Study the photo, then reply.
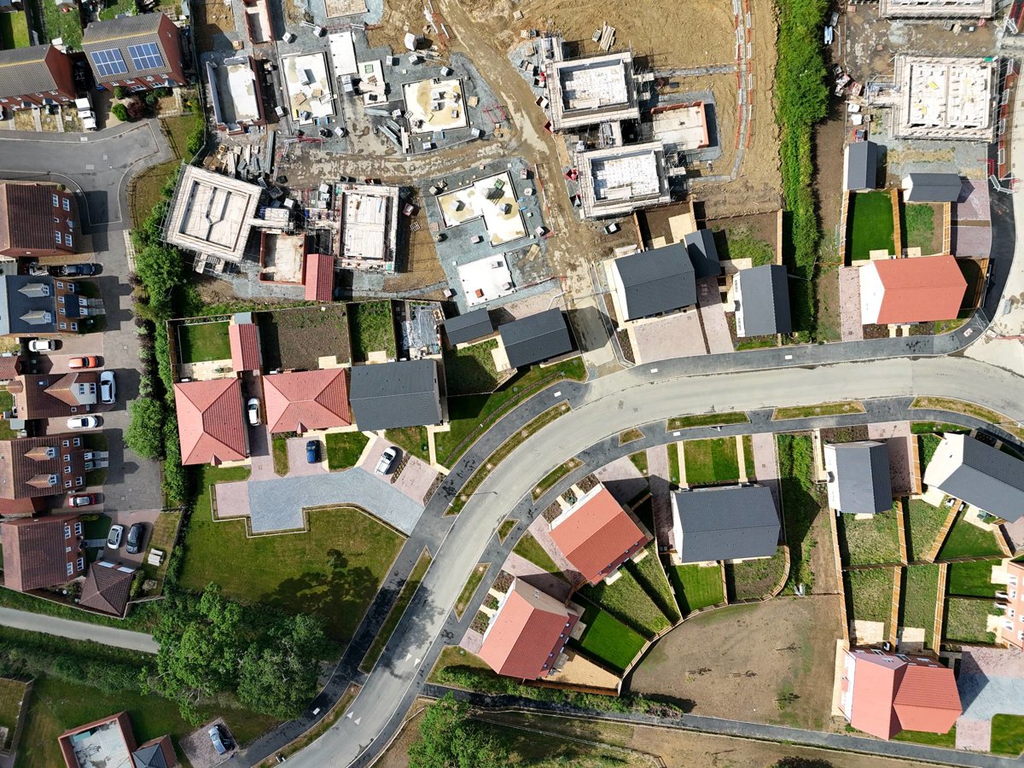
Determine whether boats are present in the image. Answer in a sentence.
No, there's no boat here.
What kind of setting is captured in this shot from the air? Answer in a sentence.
What you see here is a residential area.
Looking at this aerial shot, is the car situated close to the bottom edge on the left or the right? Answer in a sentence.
You can find the car situated close to the bottom edge on the left side of the picture.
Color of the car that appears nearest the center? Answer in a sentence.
The color of the car that appears nearest the center is white.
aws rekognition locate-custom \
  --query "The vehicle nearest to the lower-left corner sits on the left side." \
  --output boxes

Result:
[211,724,232,756]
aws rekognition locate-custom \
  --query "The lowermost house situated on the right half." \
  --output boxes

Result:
[839,647,964,740]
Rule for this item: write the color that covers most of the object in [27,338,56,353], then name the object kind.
white car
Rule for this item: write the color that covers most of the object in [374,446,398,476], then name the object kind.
white car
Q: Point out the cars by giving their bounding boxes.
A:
[106,523,124,549]
[68,355,98,370]
[98,370,116,404]
[27,338,56,353]
[69,493,96,508]
[306,439,320,464]
[90,79,106,102]
[245,397,261,426]
[64,261,96,277]
[211,724,232,756]
[374,446,398,476]
[66,416,99,429]
[125,522,145,553]
[22,360,45,374]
